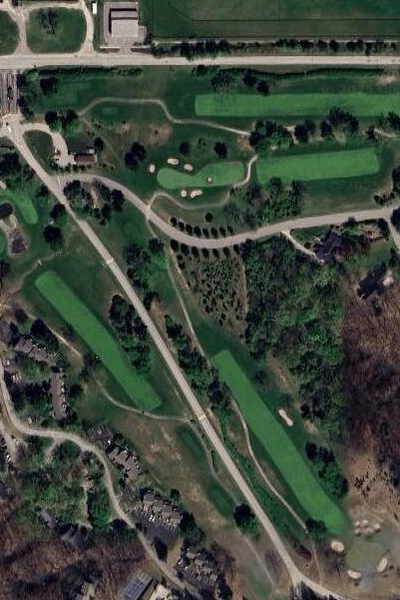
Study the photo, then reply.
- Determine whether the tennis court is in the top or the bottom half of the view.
bottom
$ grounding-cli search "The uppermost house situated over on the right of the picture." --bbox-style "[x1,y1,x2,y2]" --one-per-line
[317,228,352,257]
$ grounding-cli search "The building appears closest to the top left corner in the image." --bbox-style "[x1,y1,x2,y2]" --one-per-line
[110,7,139,37]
